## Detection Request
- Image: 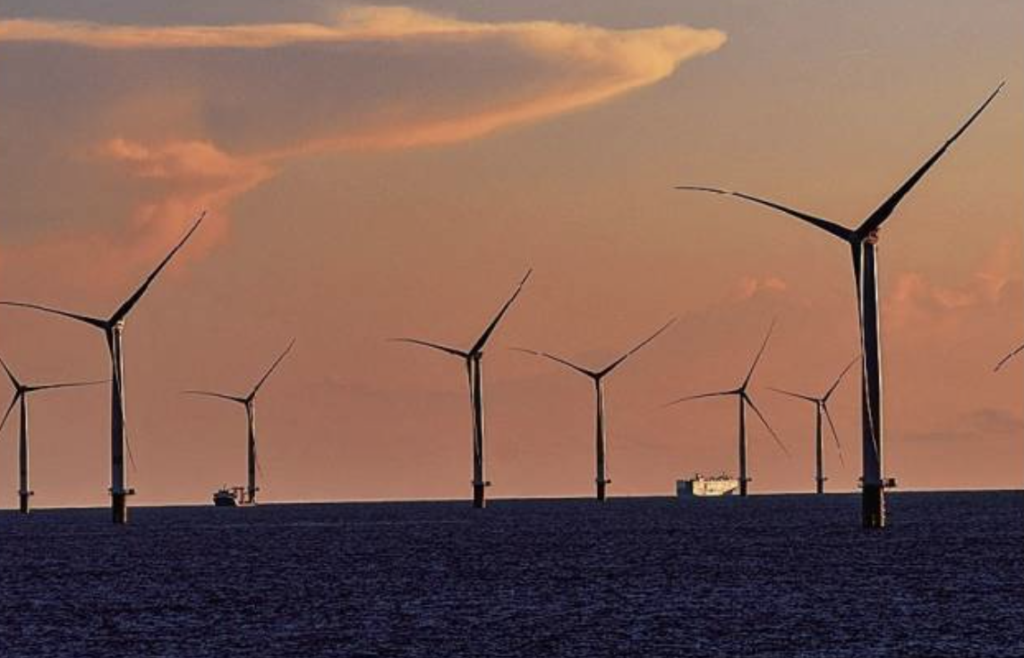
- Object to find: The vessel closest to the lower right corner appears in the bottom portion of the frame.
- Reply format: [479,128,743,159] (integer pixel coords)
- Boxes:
[678,472,736,497]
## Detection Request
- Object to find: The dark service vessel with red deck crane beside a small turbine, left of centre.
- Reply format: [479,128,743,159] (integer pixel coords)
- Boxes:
[214,482,254,507]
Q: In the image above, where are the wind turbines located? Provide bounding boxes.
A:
[664,320,789,496]
[0,212,205,523]
[510,319,675,501]
[680,81,1003,527]
[0,354,106,512]
[770,360,859,494]
[996,347,1024,370]
[388,271,530,507]
[188,340,295,506]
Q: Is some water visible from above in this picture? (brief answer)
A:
Yes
